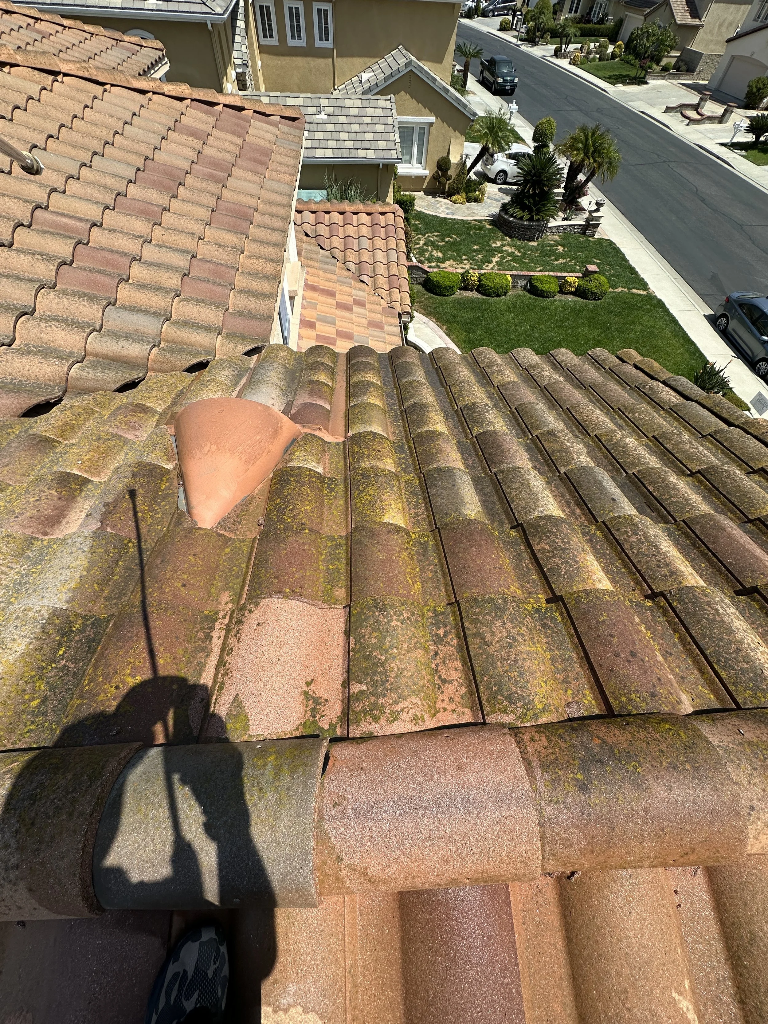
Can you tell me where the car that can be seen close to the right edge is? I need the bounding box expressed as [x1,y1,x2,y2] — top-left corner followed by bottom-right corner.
[713,294,768,383]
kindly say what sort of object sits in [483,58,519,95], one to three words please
truck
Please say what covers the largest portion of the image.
buildings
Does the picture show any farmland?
No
